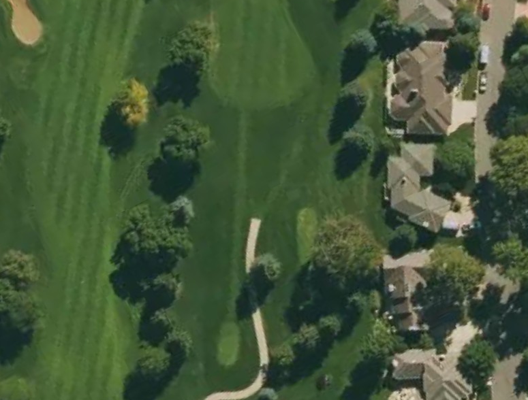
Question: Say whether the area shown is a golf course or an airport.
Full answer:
What you see here is a golf course.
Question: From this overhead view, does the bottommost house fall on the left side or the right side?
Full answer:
The bottommost house sits on the right side.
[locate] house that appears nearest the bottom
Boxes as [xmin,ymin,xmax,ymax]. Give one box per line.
[393,349,478,400]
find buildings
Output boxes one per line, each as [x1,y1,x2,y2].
[396,0,457,30]
[393,349,478,400]
[386,141,456,234]
[382,252,432,333]
[390,39,455,137]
